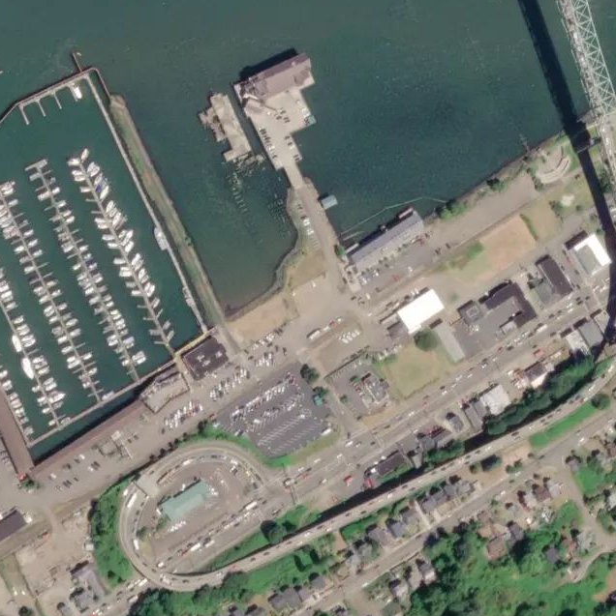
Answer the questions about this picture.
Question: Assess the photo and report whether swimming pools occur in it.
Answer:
No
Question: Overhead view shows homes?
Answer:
Yes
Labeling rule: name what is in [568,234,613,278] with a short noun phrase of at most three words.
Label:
building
